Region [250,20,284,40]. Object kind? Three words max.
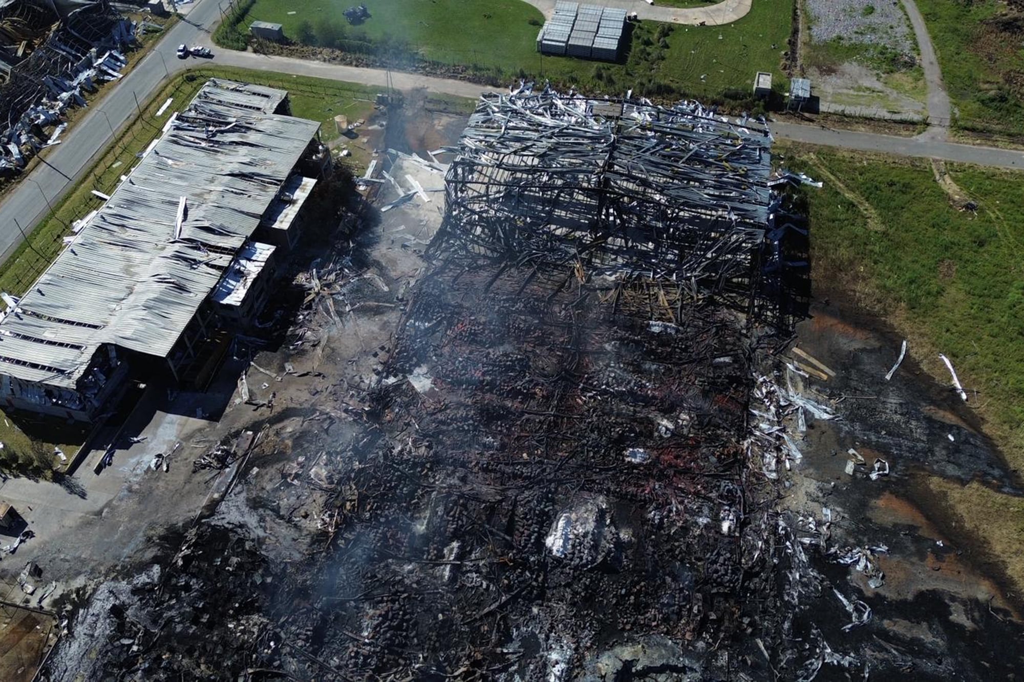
shed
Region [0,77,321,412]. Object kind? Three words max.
warehouse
